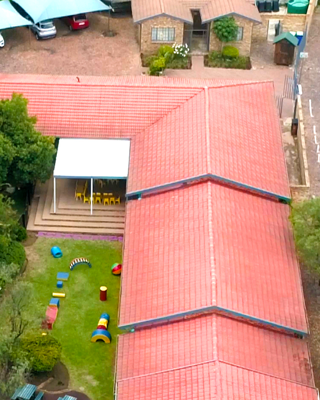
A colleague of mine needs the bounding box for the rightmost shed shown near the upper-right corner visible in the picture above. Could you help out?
[273,26,301,68]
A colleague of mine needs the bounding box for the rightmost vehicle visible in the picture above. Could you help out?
[65,11,92,31]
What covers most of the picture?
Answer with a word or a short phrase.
buildings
